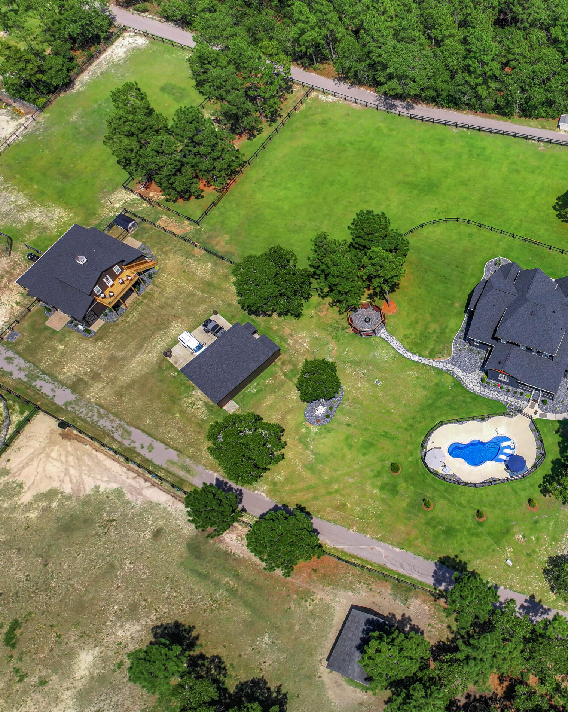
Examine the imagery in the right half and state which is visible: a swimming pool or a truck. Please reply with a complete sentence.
The feature located in the right half is a swimming pool.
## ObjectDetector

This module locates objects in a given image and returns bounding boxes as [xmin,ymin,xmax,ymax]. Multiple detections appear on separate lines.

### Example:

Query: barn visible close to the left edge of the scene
[14,224,157,326]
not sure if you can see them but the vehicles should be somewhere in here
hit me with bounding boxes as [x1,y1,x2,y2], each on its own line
[26,250,38,261]
[178,331,205,355]
[203,320,226,340]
